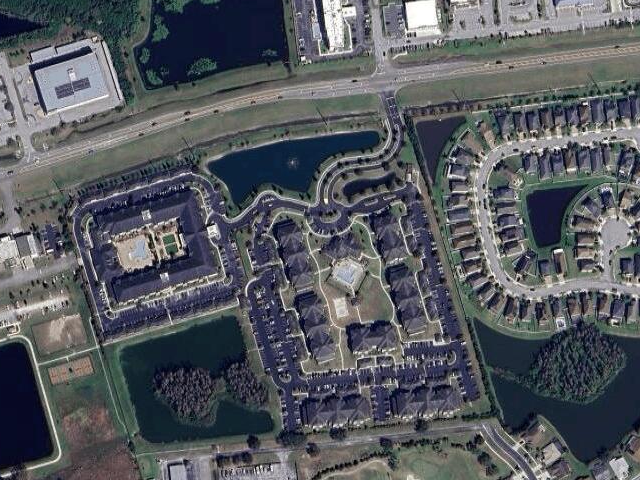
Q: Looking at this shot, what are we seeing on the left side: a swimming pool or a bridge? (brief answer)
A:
swimming pool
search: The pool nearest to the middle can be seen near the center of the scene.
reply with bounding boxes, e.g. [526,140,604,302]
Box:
[331,260,362,292]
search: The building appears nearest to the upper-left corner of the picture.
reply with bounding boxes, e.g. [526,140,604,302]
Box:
[35,53,109,116]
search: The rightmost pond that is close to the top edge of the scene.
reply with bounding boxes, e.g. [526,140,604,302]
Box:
[136,0,286,89]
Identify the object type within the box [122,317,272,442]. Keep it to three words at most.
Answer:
pond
